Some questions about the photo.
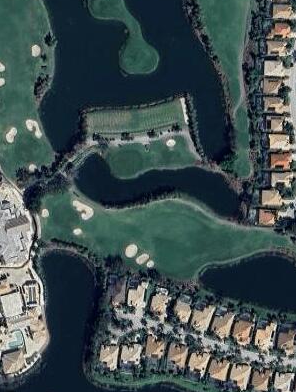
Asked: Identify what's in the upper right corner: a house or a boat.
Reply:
house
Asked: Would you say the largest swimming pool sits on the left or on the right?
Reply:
left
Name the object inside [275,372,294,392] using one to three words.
house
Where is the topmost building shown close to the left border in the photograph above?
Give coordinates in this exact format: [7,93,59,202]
[0,200,30,267]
